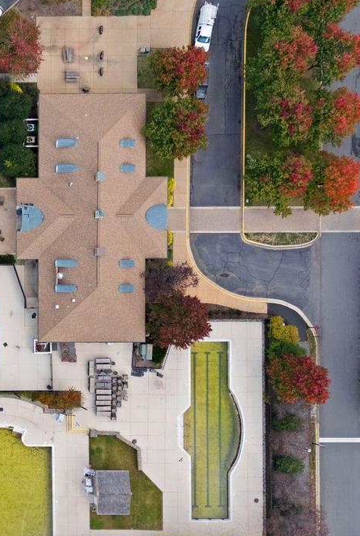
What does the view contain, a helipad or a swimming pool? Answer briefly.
swimming pool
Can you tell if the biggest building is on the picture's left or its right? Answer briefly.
left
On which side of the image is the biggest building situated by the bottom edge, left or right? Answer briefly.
left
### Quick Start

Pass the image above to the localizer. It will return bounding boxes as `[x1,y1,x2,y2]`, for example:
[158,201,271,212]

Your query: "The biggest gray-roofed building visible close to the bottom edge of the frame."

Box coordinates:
[87,469,132,514]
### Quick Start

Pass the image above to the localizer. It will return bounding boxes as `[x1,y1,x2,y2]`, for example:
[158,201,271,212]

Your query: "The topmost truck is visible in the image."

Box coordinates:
[193,0,219,53]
